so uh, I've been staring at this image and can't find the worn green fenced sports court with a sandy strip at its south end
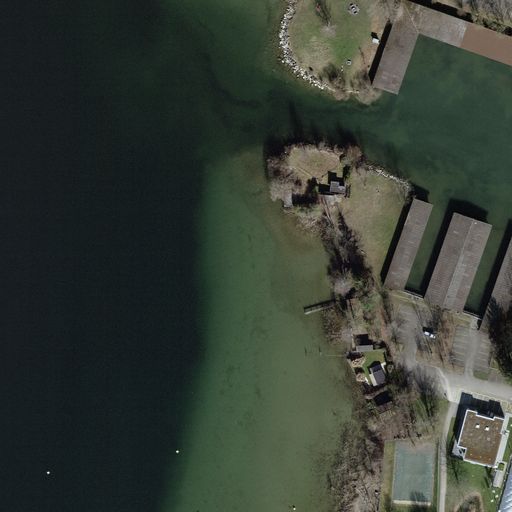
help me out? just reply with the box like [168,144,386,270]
[393,440,436,504]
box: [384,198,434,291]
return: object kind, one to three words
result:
building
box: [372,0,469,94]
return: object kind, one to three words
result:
building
